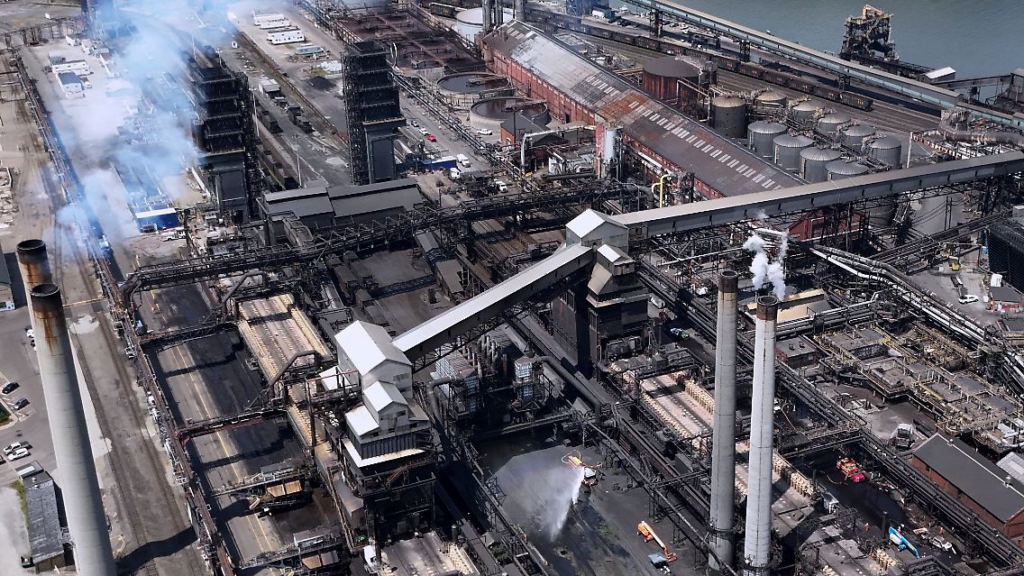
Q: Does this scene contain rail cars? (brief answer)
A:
Yes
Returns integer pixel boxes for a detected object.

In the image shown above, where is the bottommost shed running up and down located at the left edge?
[24,482,66,576]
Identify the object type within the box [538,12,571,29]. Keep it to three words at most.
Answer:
rail car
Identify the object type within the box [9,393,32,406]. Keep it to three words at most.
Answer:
vehicle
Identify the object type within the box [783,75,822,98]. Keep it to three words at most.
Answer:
rail car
